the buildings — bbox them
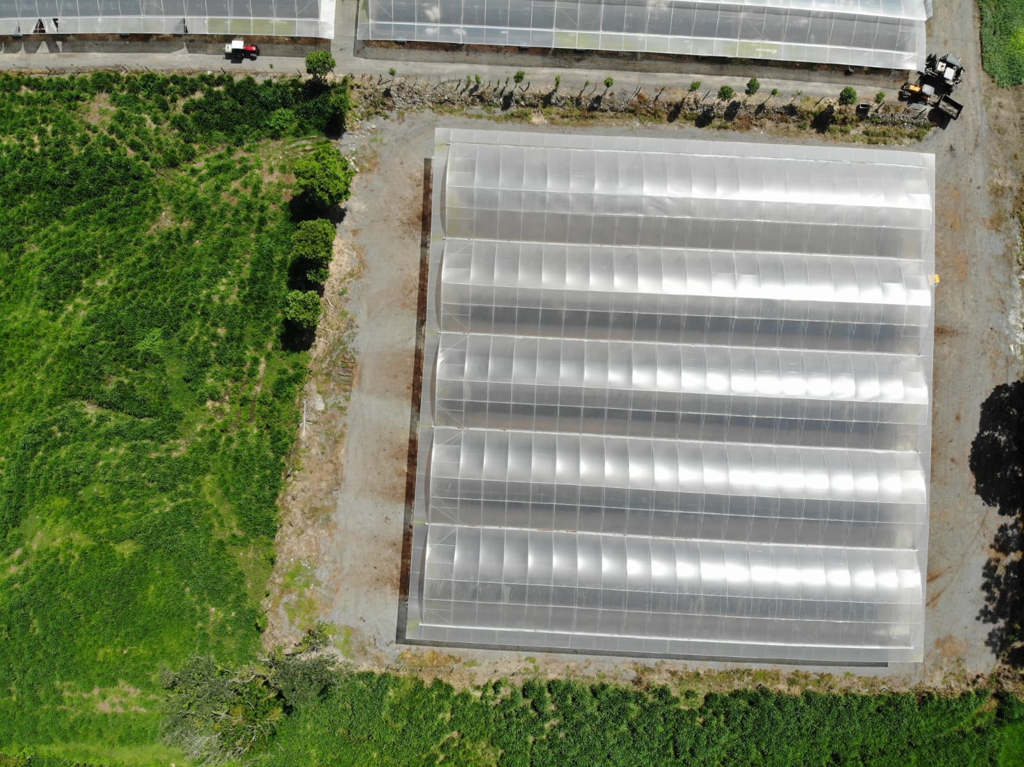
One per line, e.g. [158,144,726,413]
[406,128,935,663]
[0,0,339,38]
[359,0,925,71]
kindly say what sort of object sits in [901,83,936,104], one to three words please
work vehicle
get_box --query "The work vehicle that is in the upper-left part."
[227,40,263,59]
